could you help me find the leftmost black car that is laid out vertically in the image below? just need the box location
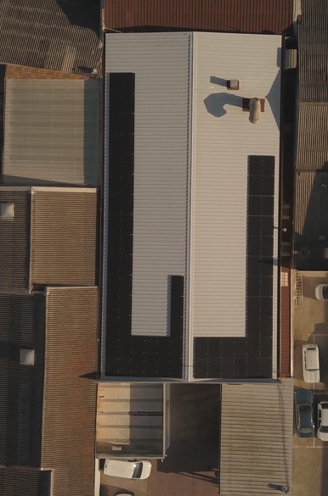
[293,389,315,438]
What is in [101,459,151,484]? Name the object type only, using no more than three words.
vehicle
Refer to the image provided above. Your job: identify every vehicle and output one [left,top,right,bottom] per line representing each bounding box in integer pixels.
[293,389,315,438]
[101,459,151,484]
[314,282,328,301]
[315,400,328,441]
[300,343,322,384]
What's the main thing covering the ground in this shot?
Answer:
buildings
